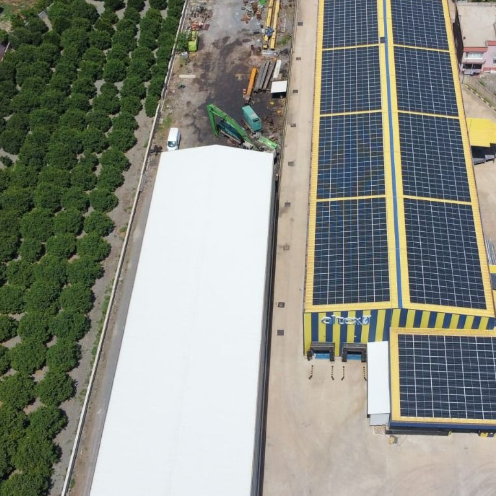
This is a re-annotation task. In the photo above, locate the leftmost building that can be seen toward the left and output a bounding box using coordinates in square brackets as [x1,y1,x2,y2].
[88,147,274,496]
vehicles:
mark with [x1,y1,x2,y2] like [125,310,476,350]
[208,104,265,151]
[165,122,182,151]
